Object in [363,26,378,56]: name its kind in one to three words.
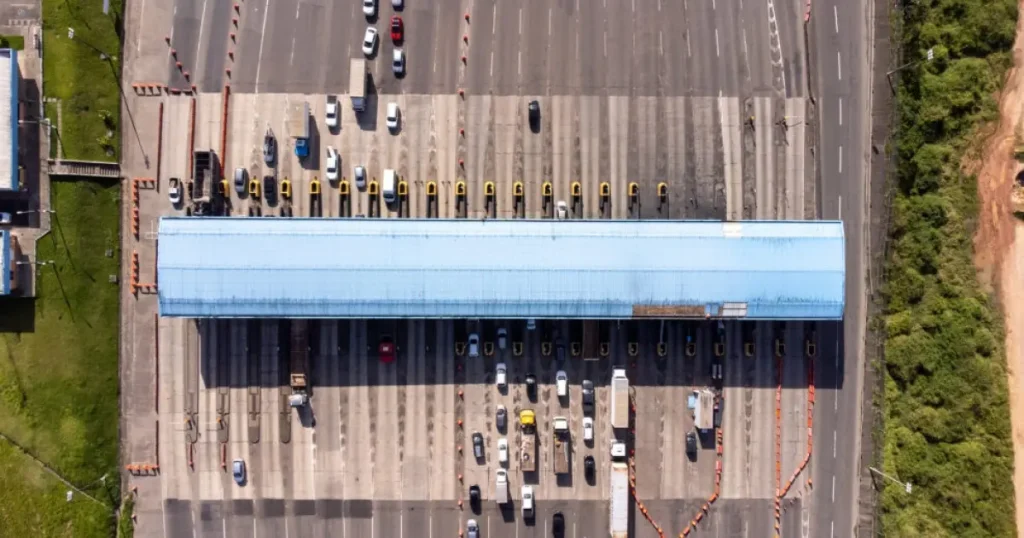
car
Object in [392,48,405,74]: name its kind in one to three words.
vehicle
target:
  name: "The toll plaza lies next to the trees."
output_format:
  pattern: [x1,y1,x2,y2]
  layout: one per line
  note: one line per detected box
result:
[158,95,816,499]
